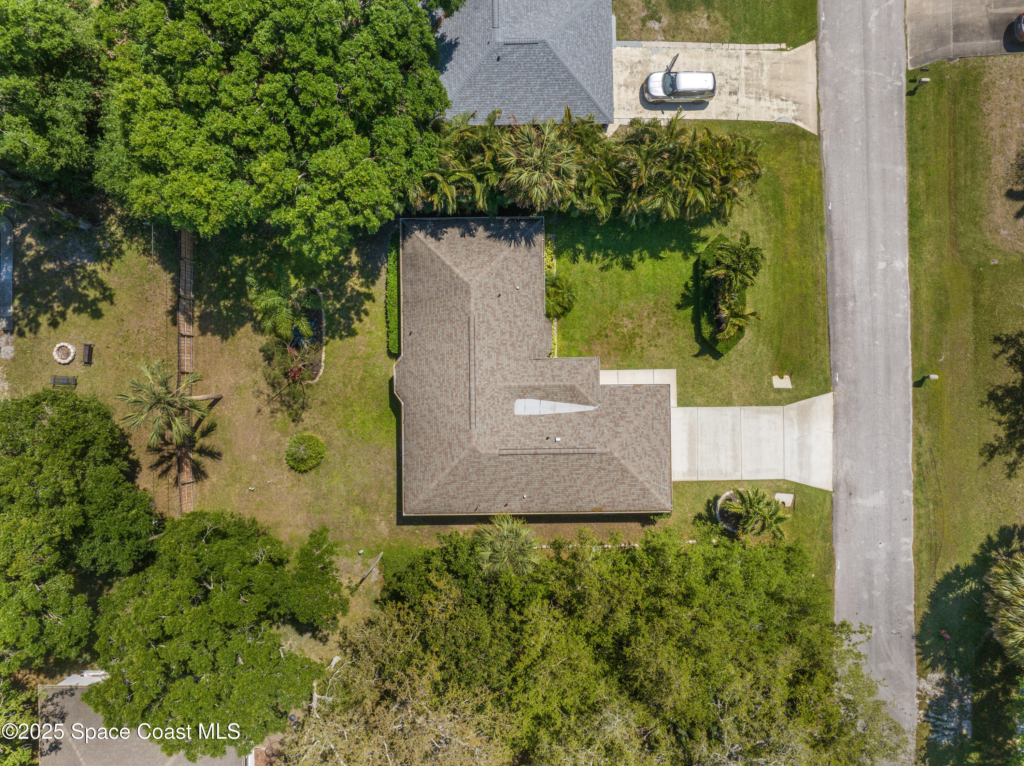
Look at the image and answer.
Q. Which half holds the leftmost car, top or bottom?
top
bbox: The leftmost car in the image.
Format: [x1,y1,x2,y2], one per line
[642,55,717,106]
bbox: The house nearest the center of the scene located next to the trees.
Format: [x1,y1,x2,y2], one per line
[392,214,673,517]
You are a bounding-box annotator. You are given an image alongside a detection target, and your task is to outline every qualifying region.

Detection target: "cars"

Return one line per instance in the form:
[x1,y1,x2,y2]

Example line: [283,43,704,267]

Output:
[1010,13,1024,48]
[642,55,717,106]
